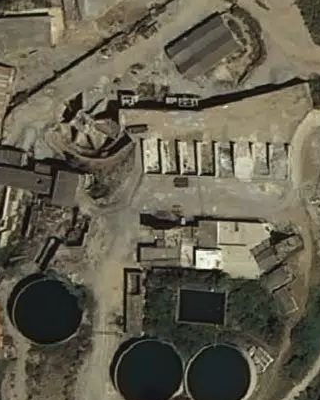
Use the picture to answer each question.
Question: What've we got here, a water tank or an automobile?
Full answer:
Of the two, only a water tank appears.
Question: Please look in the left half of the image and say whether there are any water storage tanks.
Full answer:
Yes, I can see a water storage tank in the left half of the image.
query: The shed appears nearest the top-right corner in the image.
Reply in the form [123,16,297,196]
[168,14,244,77]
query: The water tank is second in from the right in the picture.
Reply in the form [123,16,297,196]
[114,337,185,400]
